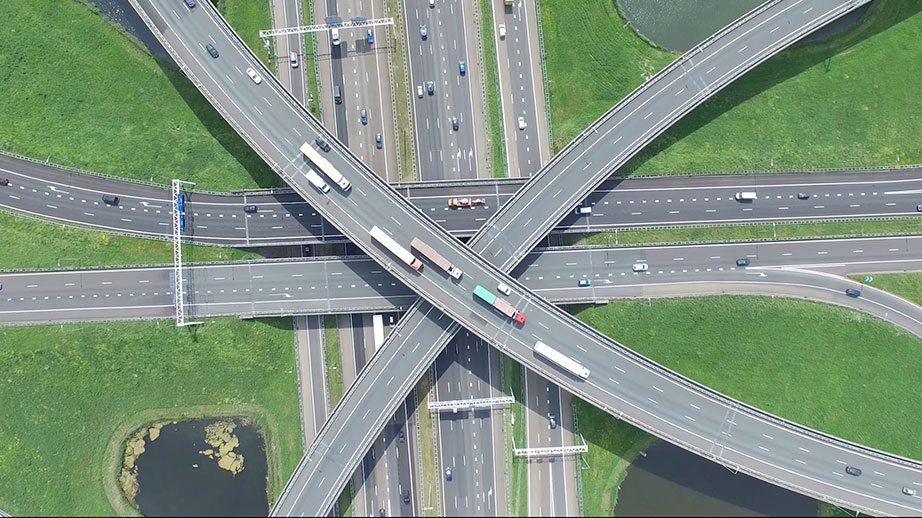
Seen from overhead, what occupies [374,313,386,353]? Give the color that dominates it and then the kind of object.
white vehicle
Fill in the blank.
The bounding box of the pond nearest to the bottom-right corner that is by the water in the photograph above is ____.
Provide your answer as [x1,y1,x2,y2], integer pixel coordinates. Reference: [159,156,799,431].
[613,440,818,518]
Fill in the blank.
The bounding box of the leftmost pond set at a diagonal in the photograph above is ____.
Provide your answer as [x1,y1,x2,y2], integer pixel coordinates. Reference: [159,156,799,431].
[90,0,180,70]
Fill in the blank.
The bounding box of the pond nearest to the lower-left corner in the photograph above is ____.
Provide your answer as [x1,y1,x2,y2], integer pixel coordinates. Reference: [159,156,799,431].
[121,416,270,518]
